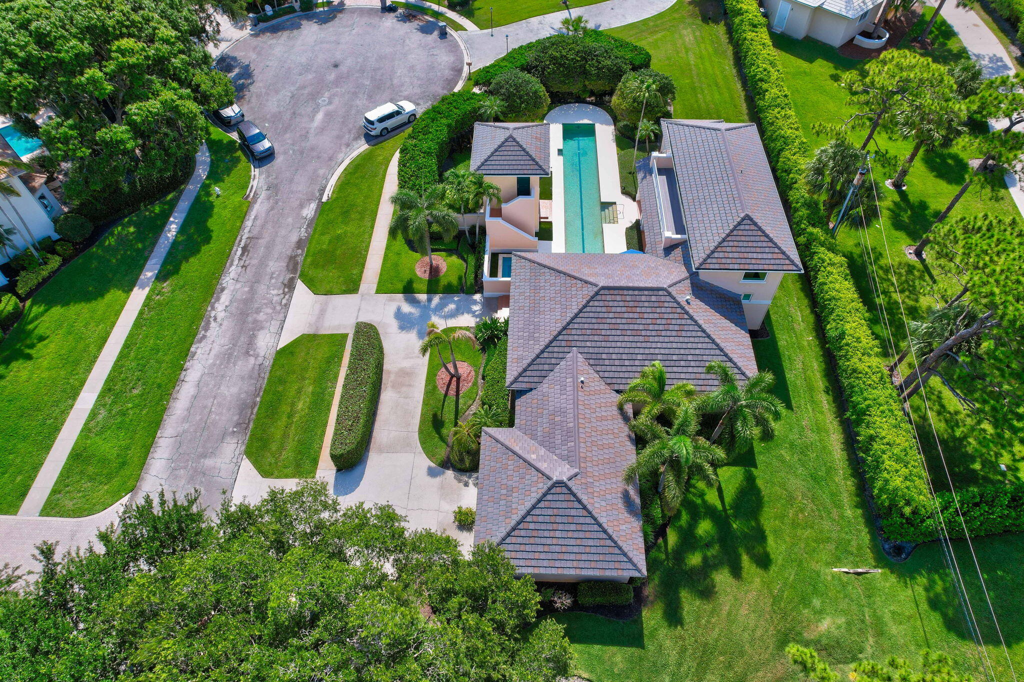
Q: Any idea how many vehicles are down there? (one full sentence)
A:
There are 3 vehicles in the image.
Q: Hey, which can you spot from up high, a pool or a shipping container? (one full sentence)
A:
It is a pool that can be seen here.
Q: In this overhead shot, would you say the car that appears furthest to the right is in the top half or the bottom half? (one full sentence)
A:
The car that appears furthest to the right sits in the top half of the picture.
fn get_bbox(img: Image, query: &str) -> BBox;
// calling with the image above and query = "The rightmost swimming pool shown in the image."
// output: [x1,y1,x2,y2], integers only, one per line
[557,123,629,252]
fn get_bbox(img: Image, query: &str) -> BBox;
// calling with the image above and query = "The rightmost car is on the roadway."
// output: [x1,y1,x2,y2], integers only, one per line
[360,99,420,136]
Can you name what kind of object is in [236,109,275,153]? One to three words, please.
car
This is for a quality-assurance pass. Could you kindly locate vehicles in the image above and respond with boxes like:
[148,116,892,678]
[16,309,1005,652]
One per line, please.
[360,99,420,136]
[202,83,247,121]
[236,109,275,153]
